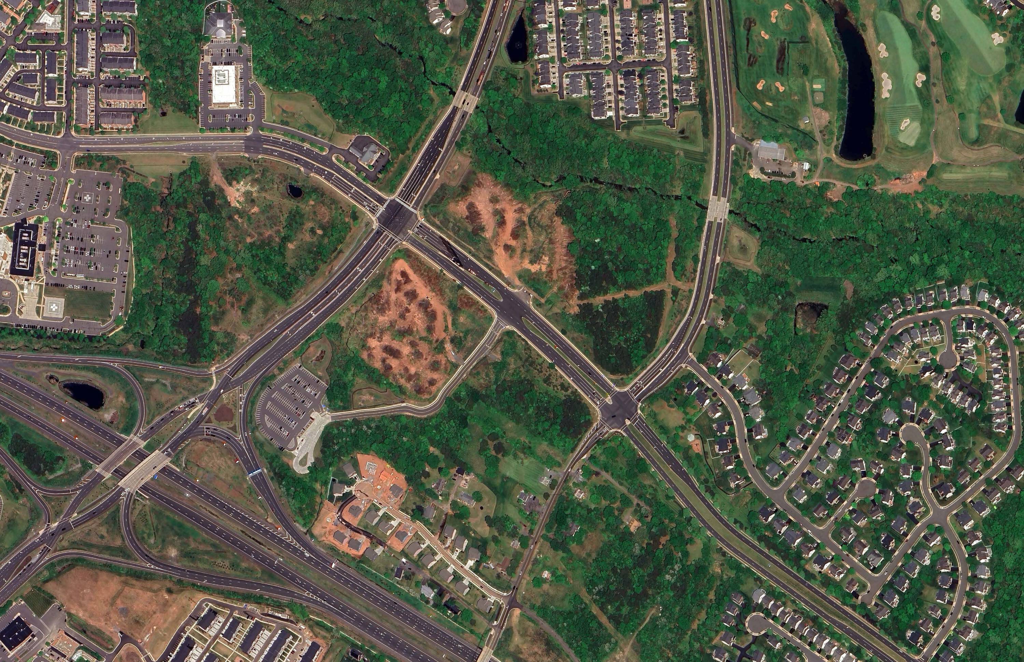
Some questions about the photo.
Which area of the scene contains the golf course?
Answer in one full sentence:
The golf course sits in the top right section of the image.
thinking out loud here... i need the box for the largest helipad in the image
[43,297,65,318]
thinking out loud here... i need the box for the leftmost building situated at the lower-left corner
[0,616,34,652]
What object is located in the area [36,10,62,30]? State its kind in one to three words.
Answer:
building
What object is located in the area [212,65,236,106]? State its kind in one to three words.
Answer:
building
